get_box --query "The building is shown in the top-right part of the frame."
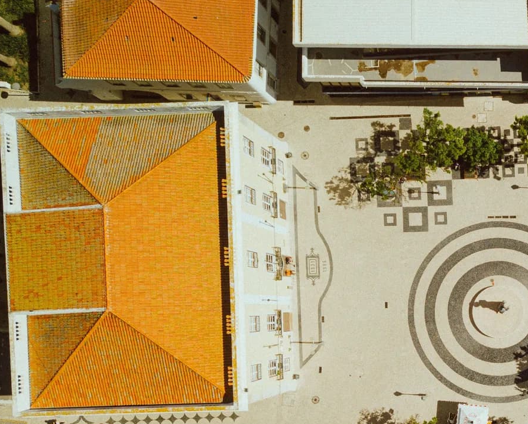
[293,0,528,102]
